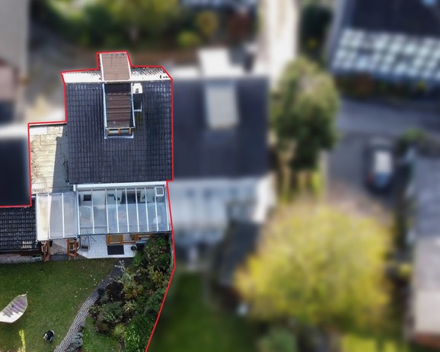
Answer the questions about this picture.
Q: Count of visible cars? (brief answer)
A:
1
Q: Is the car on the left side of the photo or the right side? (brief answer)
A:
right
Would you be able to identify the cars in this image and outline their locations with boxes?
[363,145,397,194]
